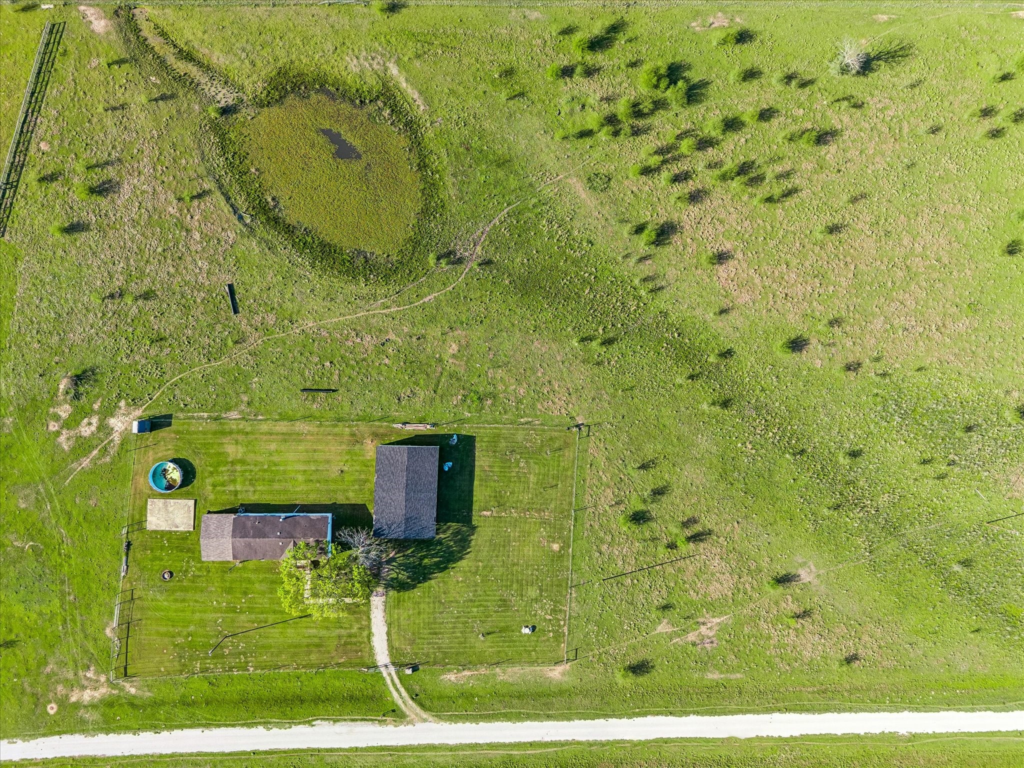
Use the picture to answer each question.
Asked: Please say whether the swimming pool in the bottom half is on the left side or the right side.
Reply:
left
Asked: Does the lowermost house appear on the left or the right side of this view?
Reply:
left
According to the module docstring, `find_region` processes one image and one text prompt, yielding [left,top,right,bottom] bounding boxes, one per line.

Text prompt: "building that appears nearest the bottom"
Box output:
[198,513,333,563]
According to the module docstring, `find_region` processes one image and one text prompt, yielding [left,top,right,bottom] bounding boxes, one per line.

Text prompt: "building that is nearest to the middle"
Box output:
[374,445,438,539]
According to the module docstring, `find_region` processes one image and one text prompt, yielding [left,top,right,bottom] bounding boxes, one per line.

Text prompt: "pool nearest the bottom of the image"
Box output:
[148,456,187,495]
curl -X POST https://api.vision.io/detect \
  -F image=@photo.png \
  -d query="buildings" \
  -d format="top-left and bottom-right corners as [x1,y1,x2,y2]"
[198,513,333,563]
[133,420,151,433]
[374,445,438,539]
